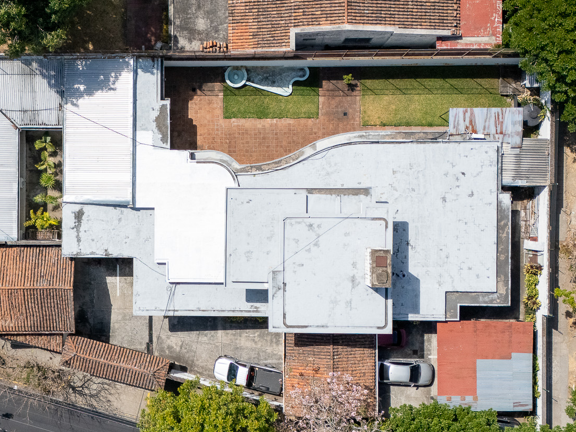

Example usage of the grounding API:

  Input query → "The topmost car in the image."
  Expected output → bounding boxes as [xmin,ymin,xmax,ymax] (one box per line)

[378,323,411,351]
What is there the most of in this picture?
buildings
